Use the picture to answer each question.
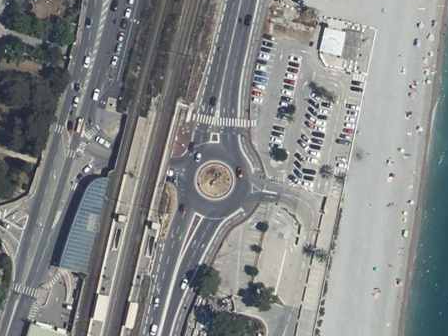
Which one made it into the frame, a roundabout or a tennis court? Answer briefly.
roundabout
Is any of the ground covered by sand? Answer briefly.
Yes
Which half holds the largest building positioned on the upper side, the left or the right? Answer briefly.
right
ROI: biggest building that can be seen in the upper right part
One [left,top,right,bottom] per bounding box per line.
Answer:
[318,18,376,75]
